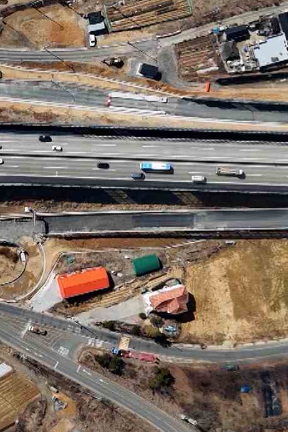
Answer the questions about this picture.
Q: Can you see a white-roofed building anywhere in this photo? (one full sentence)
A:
Yes, there's a white-roofed building here.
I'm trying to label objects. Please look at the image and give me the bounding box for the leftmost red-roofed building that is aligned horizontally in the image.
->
[54,267,111,299]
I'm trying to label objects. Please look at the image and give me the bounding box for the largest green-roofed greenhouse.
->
[129,253,160,275]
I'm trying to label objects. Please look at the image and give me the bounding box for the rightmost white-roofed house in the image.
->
[246,35,288,68]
